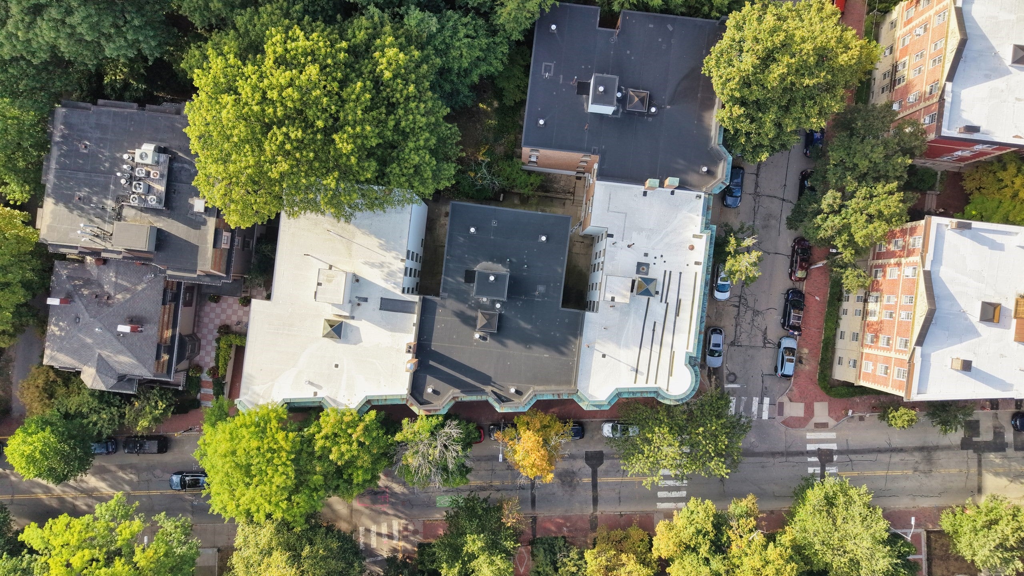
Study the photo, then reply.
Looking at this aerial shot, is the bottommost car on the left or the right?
left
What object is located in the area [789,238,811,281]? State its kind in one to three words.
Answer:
car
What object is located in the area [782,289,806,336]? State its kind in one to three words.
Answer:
car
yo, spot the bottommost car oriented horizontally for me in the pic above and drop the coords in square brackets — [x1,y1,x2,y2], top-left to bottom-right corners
[169,471,212,493]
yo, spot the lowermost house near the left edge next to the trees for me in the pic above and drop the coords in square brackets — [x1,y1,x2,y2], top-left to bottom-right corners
[43,256,213,394]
